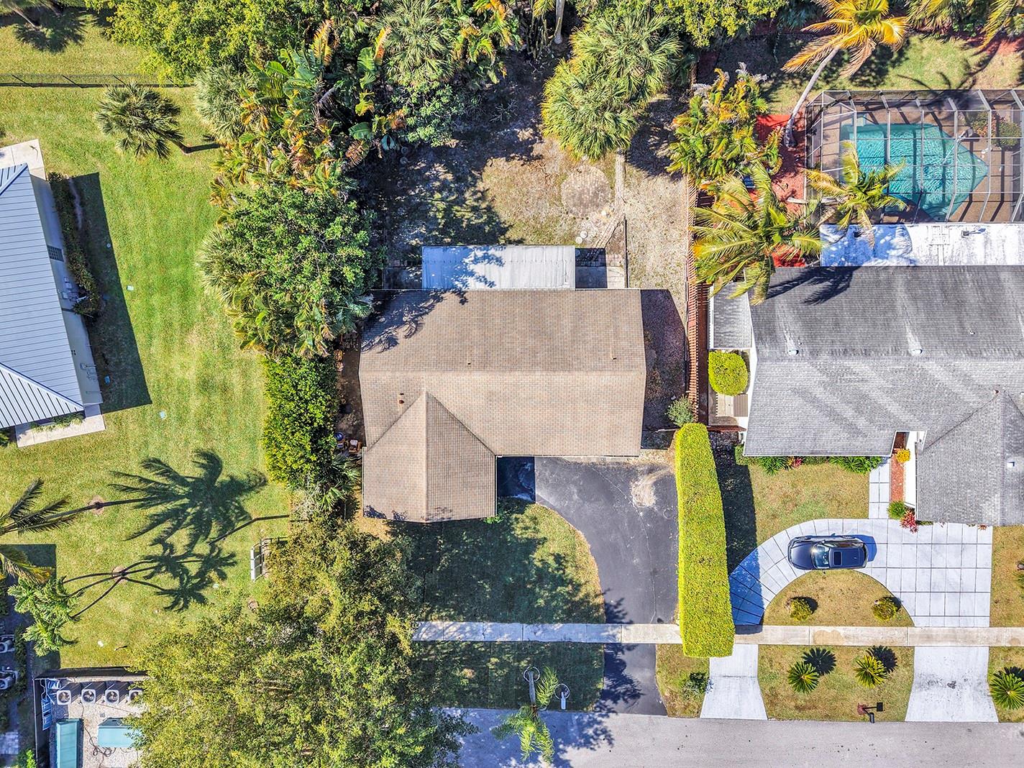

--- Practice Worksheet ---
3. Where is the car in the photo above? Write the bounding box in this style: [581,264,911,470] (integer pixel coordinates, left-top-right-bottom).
[788,536,868,572]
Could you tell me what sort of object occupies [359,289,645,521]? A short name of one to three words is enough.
house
